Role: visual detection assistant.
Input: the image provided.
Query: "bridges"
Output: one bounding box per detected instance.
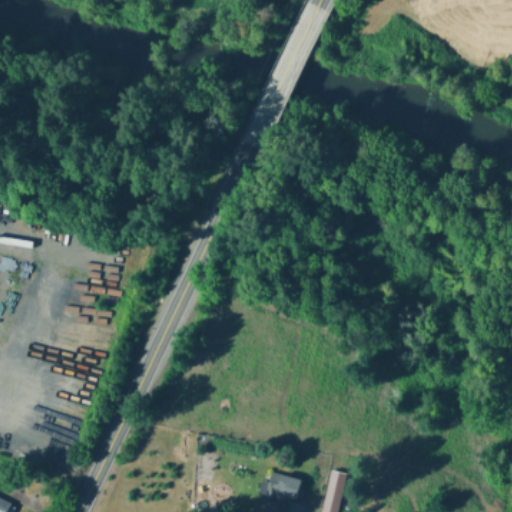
[253,0,330,122]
